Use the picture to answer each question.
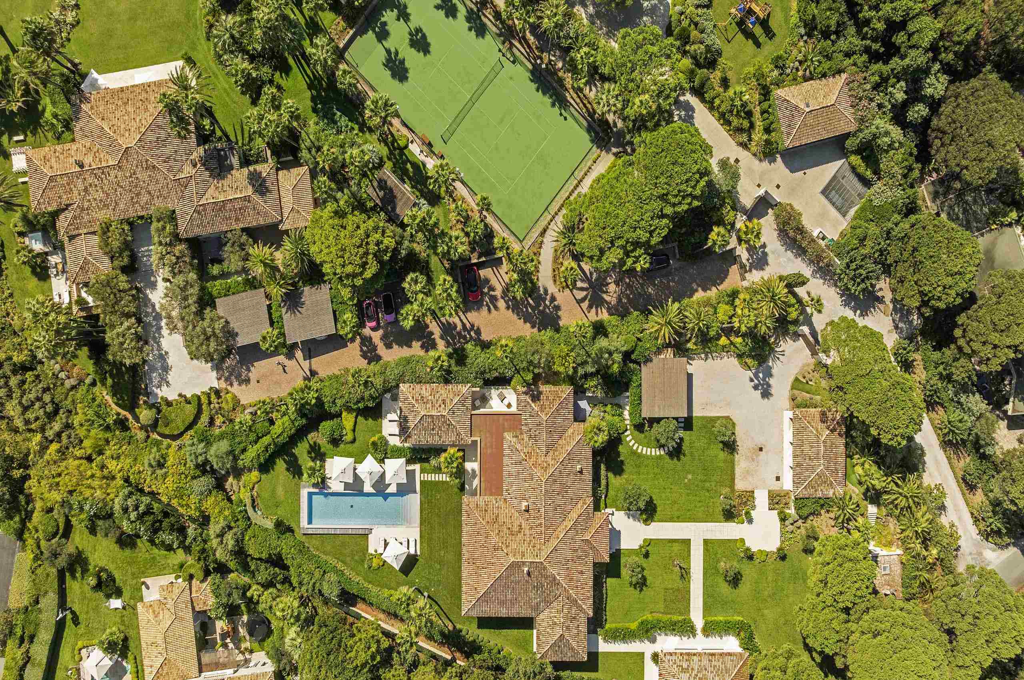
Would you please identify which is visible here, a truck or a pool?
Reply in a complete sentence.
Visible in the photo is a pool.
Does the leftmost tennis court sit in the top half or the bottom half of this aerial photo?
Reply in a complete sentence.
You can find the leftmost tennis court in the top half.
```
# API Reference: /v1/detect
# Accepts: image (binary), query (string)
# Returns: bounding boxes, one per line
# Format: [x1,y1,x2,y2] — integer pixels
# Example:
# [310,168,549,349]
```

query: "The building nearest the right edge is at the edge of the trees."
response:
[996,359,1024,415]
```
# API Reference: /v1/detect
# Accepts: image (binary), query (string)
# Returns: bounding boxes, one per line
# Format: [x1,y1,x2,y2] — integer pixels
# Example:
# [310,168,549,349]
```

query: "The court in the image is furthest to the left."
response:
[347,0,601,241]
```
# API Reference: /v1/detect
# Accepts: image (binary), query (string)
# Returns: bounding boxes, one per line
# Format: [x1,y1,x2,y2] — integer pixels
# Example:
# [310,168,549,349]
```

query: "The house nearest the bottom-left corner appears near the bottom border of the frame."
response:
[136,576,278,680]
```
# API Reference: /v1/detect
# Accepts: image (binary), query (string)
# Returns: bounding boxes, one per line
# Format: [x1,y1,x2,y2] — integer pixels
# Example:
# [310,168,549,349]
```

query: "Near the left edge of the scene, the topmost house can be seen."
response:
[24,75,322,317]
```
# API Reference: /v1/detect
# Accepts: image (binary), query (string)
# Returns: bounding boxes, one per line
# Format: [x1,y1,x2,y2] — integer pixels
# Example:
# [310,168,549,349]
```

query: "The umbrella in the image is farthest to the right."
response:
[577,400,592,420]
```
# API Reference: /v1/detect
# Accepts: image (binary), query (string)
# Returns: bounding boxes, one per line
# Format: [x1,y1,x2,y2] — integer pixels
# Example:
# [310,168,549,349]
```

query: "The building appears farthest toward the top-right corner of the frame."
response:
[774,73,858,147]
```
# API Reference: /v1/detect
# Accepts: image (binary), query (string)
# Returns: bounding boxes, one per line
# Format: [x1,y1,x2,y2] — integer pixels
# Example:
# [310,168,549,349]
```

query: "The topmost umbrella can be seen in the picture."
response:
[81,69,107,92]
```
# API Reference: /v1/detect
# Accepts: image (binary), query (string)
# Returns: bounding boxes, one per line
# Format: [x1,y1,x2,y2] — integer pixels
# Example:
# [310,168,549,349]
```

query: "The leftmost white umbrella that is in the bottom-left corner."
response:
[84,647,113,680]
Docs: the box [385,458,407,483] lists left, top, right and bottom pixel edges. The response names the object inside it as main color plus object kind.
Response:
white umbrella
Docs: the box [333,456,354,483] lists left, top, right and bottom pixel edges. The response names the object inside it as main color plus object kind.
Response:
white umbrella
